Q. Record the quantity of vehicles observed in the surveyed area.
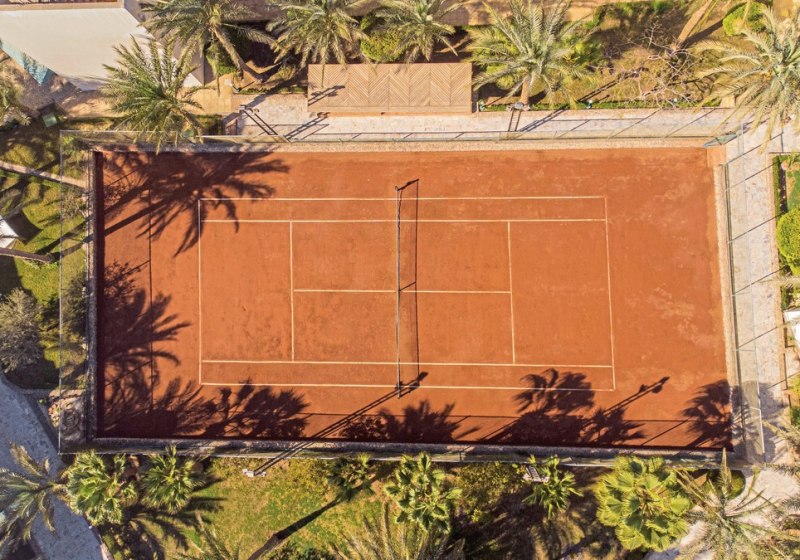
zero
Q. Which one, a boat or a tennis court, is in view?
tennis court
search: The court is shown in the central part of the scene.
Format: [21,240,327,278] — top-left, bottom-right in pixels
[97,144,734,449]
